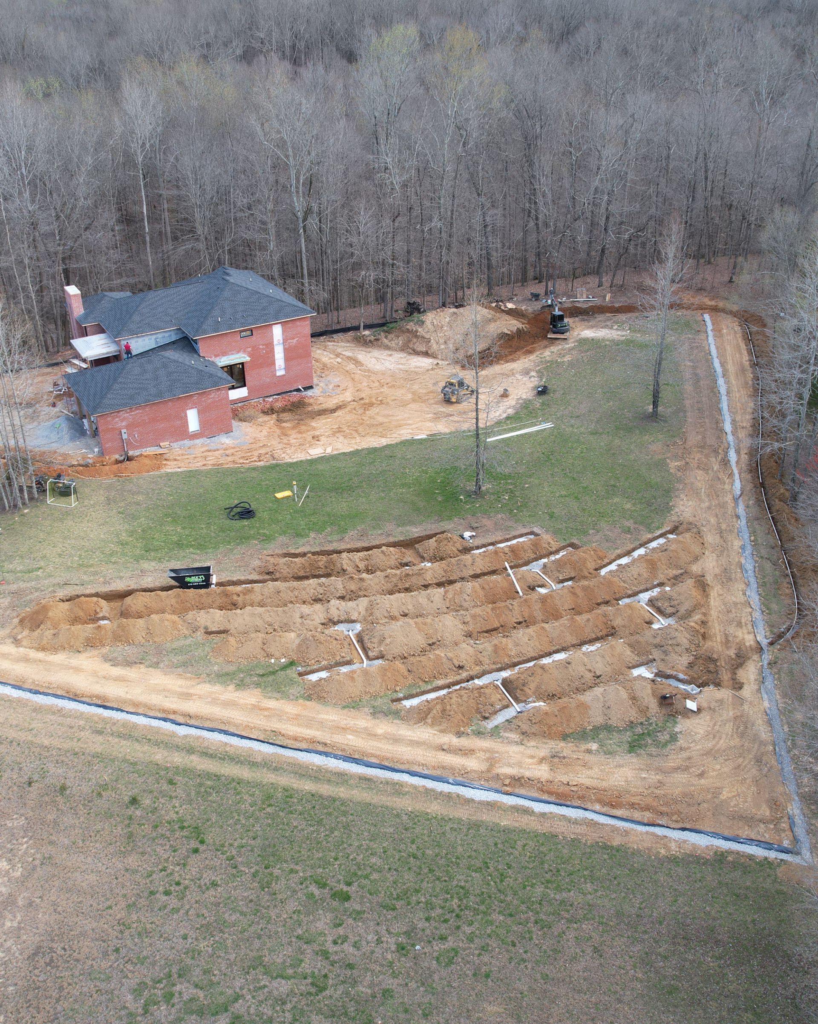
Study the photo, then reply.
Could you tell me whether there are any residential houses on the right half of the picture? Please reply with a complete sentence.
No, no residential house is visible on the right half of the picture.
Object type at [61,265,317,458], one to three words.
house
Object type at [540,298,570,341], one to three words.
work vehicle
